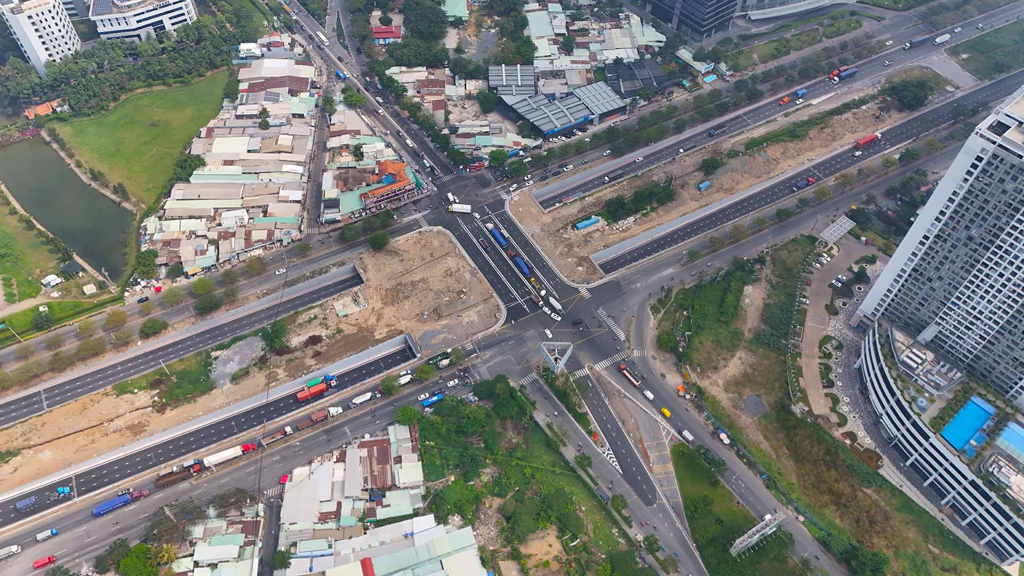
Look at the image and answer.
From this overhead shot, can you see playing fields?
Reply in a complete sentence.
Yes, there's a playing field down there.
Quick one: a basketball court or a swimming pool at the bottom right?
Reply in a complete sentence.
Looking at the bottom right, you will find a swimming pool.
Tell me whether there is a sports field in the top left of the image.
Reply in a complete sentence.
Yes, you'll find a sports field in the top left of the image.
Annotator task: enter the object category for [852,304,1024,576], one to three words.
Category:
building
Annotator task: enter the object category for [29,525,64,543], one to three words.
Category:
vehicle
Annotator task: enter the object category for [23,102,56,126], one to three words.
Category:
house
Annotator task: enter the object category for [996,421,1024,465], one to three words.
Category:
swimming pool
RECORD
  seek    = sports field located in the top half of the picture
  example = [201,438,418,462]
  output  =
[51,70,230,205]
